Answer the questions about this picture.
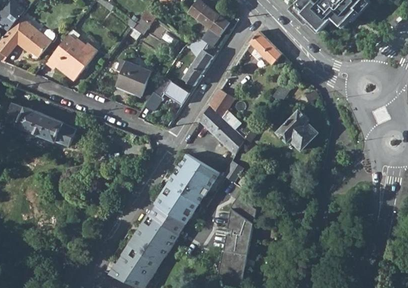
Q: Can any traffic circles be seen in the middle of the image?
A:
No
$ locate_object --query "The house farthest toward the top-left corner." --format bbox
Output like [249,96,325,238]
[0,0,30,31]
